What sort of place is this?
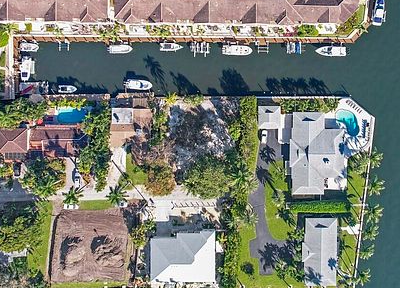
residential area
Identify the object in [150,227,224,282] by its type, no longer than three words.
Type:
house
